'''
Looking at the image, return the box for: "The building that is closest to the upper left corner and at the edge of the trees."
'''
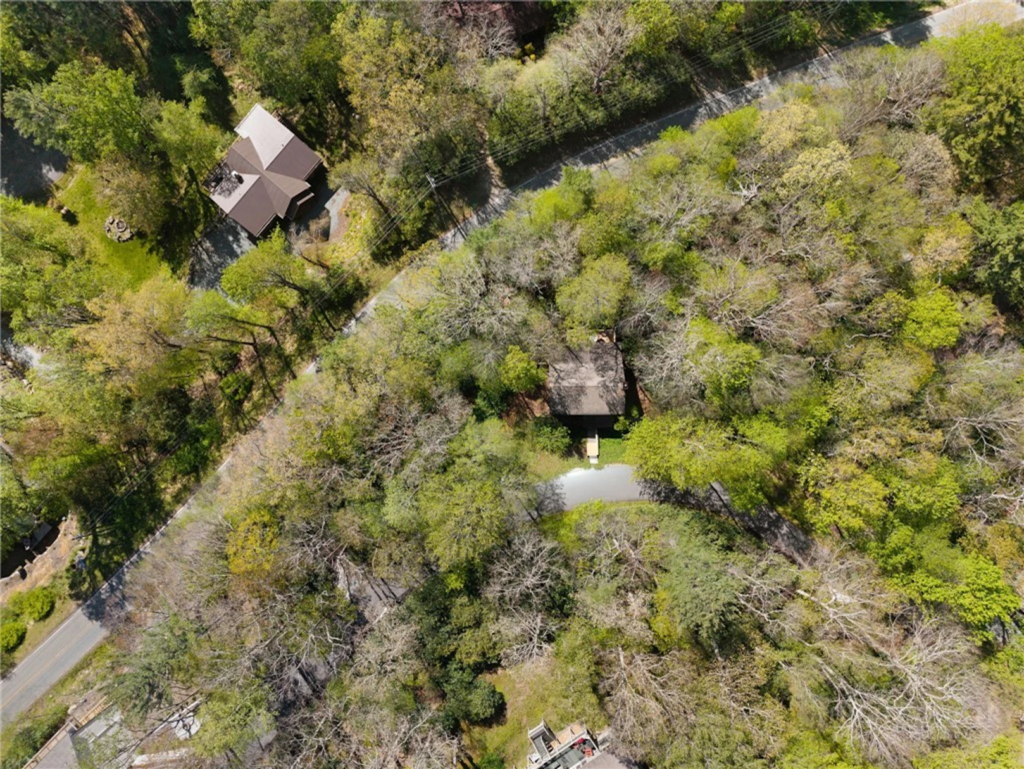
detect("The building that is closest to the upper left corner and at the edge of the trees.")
[205,104,326,236]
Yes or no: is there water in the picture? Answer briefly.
No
